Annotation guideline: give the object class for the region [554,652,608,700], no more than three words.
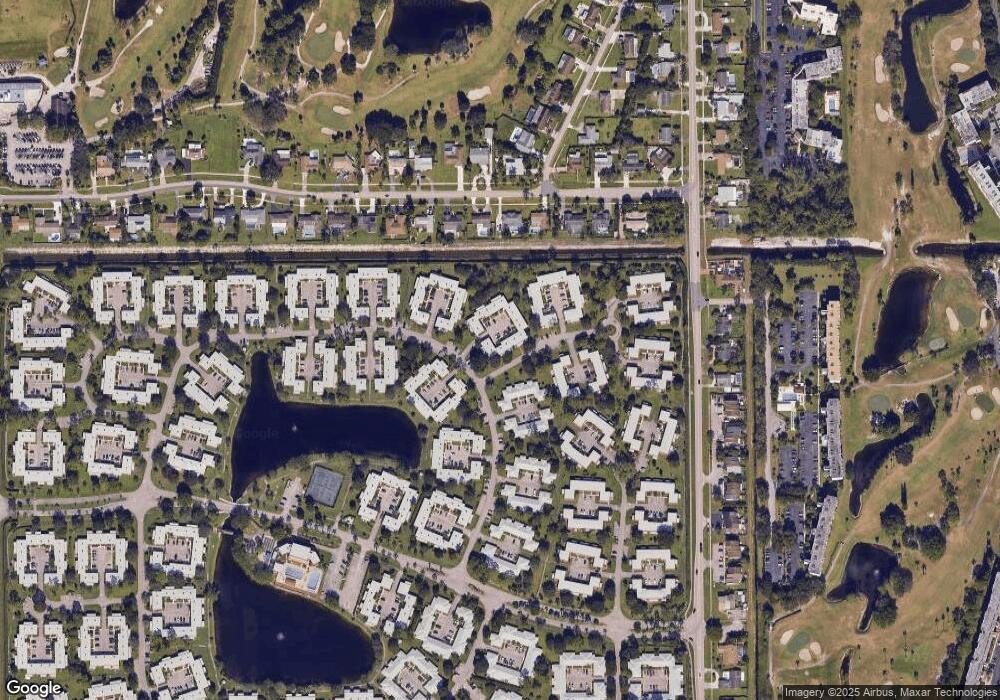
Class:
building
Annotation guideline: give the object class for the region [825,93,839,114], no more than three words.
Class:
swimming pool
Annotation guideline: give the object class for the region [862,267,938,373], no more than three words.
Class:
pond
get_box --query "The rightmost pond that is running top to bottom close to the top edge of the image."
[901,0,972,132]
